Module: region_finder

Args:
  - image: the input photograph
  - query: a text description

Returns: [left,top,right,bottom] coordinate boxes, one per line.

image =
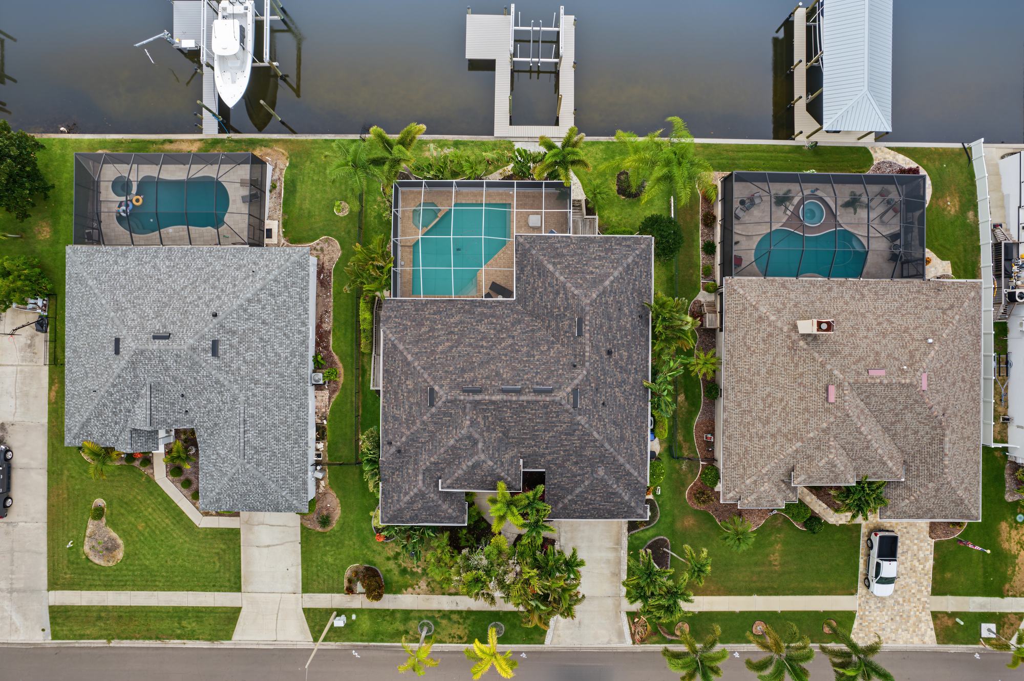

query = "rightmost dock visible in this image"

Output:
[794,7,874,141]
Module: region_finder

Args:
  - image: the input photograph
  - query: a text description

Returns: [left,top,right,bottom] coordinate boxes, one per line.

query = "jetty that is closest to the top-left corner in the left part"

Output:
[174,0,231,136]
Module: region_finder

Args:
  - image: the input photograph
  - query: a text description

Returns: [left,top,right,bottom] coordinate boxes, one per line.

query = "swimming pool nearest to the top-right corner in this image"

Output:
[800,200,825,225]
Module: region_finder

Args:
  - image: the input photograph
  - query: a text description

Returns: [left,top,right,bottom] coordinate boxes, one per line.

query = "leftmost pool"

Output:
[108,173,133,198]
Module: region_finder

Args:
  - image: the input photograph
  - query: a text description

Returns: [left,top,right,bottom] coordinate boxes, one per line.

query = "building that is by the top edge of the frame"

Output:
[799,0,897,143]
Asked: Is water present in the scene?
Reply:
Yes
